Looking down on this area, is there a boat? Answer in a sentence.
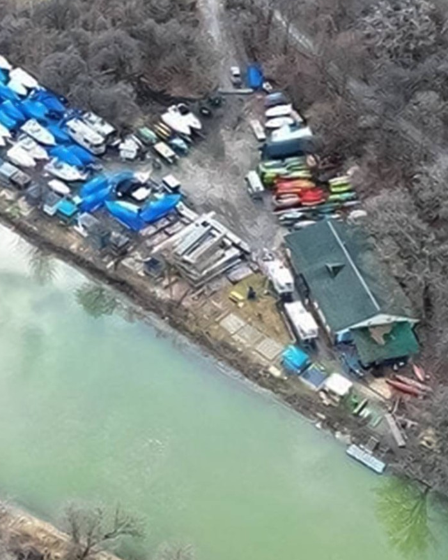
Yes, looking at the shot, I can spot a boat.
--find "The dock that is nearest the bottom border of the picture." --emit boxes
[345,444,387,475]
